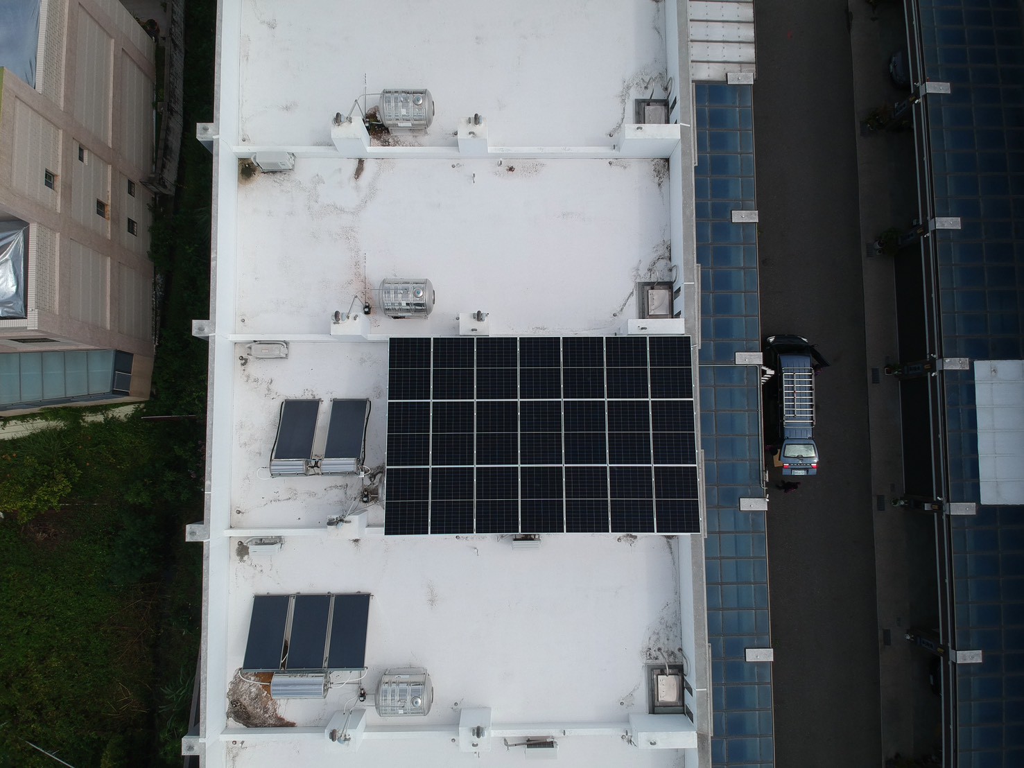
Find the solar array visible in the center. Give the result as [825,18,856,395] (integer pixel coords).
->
[384,337,702,534]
